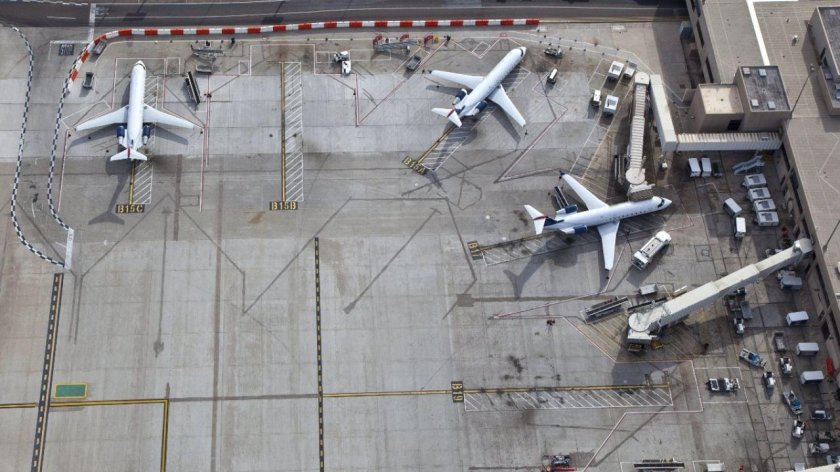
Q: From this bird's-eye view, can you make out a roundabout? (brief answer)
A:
No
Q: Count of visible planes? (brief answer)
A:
3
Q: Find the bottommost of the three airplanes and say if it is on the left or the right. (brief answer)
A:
right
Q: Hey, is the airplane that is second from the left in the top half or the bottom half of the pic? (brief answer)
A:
top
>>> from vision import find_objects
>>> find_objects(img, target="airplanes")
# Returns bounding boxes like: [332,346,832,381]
[73,62,195,167]
[522,168,672,271]
[427,46,527,129]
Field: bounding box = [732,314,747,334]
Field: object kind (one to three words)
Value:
work vehicle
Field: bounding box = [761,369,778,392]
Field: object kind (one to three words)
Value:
work vehicle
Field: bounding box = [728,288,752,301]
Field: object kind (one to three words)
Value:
vehicle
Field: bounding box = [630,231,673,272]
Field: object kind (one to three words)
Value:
truck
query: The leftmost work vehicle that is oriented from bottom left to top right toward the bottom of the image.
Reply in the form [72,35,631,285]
[583,293,632,328]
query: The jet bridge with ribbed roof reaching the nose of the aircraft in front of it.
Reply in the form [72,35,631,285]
[611,69,651,202]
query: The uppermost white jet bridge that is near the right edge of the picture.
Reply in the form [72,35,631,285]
[627,231,819,355]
